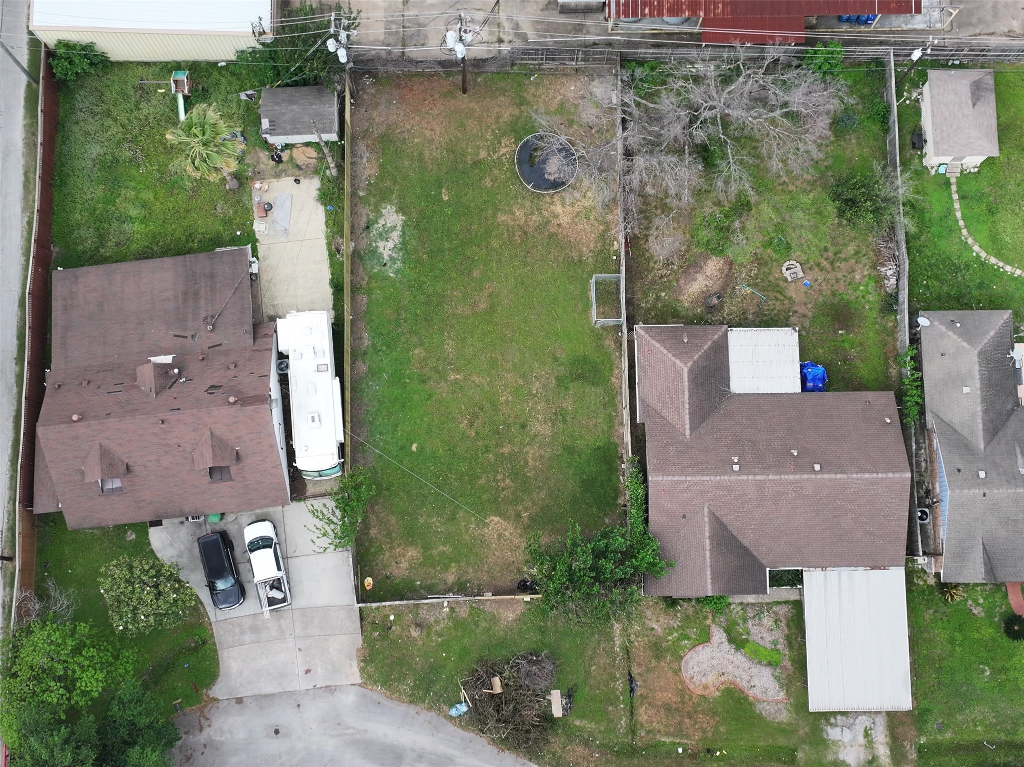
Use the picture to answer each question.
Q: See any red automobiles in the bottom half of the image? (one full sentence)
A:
No, looking in the bottom half of the image, there is no red automobile.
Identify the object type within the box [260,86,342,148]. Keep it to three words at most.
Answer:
shed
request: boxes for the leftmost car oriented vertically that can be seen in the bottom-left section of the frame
[200,531,246,613]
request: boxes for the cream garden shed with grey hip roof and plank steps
[915,68,1000,176]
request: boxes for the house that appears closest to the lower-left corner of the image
[34,247,293,530]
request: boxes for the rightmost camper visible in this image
[281,313,350,483]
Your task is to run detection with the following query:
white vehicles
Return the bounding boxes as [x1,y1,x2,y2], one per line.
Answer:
[281,313,350,483]
[245,516,293,615]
